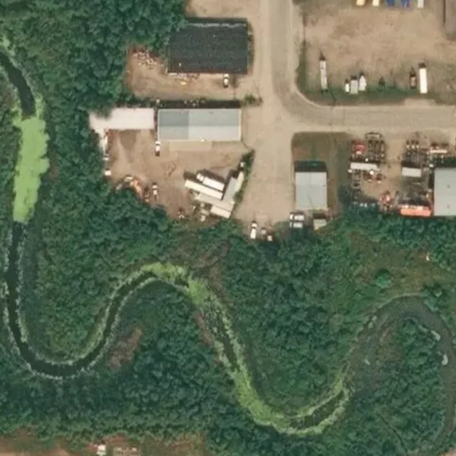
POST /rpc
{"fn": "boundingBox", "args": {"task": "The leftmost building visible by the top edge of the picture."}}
[167,21,248,73]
